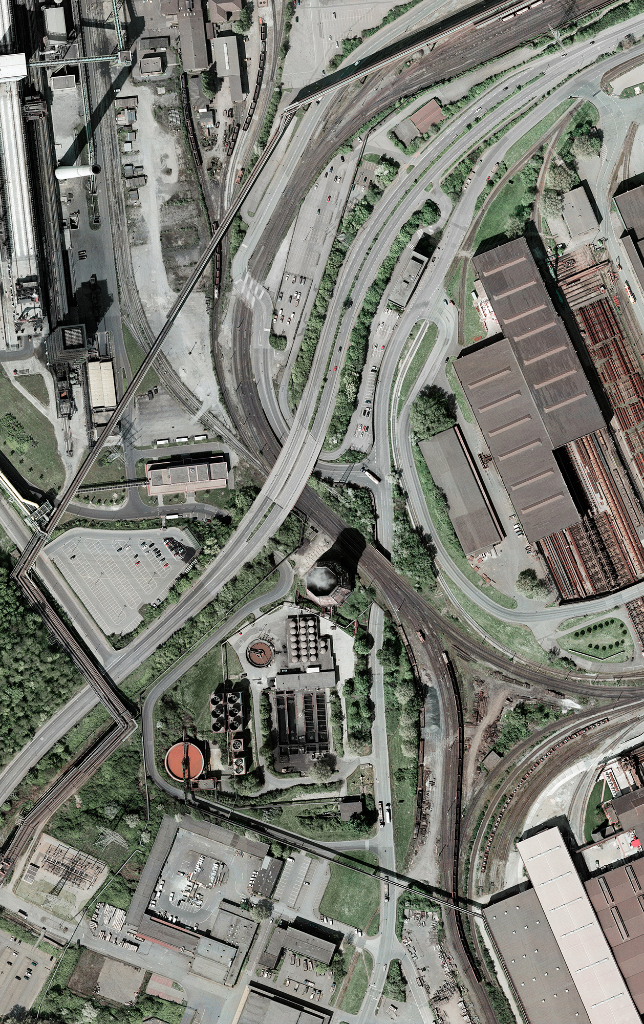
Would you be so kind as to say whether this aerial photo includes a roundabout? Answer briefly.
No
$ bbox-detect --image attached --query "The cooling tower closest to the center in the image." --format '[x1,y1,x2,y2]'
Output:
[299,558,350,613]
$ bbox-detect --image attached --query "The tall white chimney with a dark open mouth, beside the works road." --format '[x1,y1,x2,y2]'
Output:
[52,159,86,179]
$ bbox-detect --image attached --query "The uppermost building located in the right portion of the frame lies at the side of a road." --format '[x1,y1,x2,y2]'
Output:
[409,99,447,135]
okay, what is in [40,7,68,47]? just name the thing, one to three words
house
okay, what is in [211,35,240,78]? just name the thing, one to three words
building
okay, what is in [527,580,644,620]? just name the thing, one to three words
bridge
